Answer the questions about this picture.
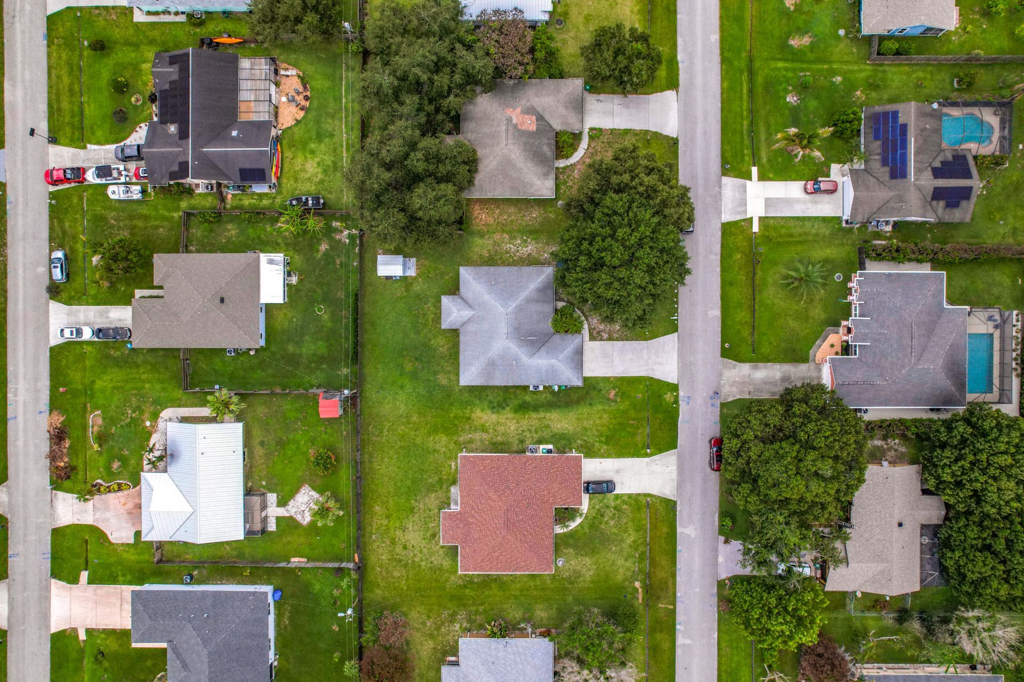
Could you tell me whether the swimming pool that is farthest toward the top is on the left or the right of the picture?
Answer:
right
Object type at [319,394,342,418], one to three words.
shed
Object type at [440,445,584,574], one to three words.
house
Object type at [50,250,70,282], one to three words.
car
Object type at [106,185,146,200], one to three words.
boat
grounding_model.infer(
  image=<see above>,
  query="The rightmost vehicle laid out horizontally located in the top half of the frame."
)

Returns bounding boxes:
[803,178,838,195]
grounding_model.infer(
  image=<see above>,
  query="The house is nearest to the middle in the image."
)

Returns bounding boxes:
[441,265,584,387]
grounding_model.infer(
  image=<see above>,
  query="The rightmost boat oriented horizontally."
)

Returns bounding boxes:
[289,195,325,209]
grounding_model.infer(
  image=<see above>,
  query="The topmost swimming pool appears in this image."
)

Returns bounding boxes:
[942,112,995,147]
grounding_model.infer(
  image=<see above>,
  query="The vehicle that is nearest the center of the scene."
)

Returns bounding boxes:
[584,480,615,495]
